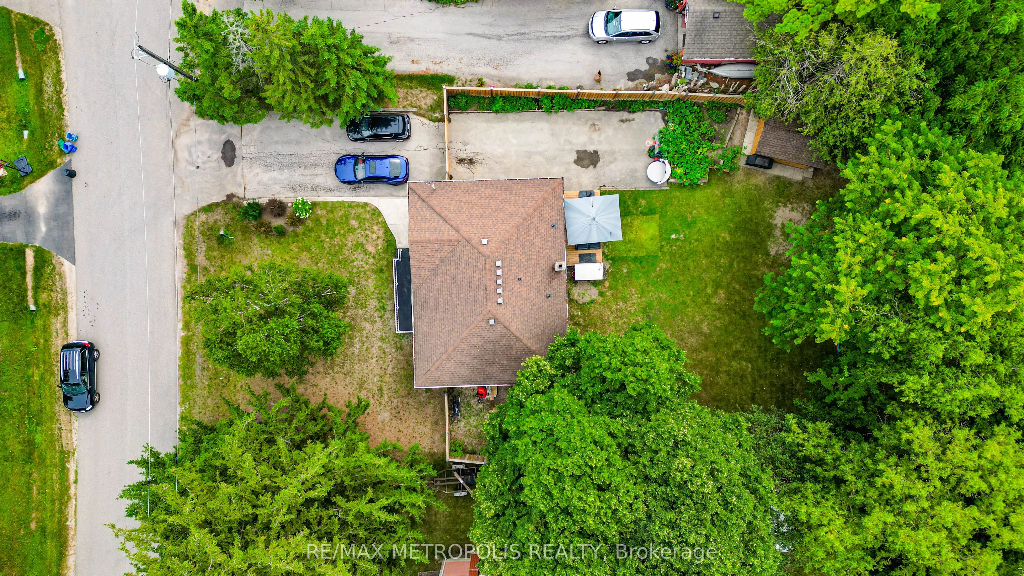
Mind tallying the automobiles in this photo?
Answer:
4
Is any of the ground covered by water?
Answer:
No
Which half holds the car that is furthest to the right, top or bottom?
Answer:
top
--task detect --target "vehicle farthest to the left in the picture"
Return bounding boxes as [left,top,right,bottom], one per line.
[59,340,101,412]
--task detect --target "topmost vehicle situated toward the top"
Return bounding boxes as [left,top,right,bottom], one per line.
[587,5,662,46]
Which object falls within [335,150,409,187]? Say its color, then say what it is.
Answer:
blue car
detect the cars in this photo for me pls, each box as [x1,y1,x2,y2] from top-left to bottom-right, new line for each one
[335,150,409,187]
[346,107,412,143]
[59,340,101,412]
[587,5,662,46]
